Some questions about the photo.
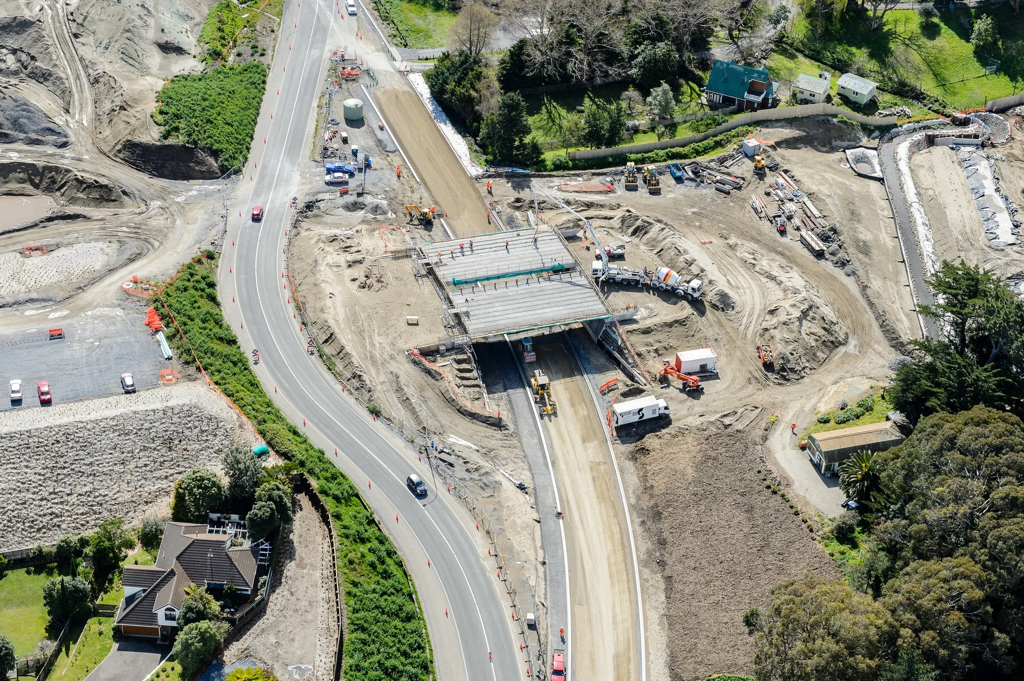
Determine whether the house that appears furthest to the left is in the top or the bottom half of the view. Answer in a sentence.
Seen from above, the house that appears furthest to the left lies in the bottom half of the view.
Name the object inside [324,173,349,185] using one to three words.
vehicle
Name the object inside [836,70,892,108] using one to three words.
shed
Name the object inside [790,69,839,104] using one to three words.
shed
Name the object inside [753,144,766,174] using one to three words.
vehicle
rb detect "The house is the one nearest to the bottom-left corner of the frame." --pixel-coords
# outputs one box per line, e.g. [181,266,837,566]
[115,522,261,640]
